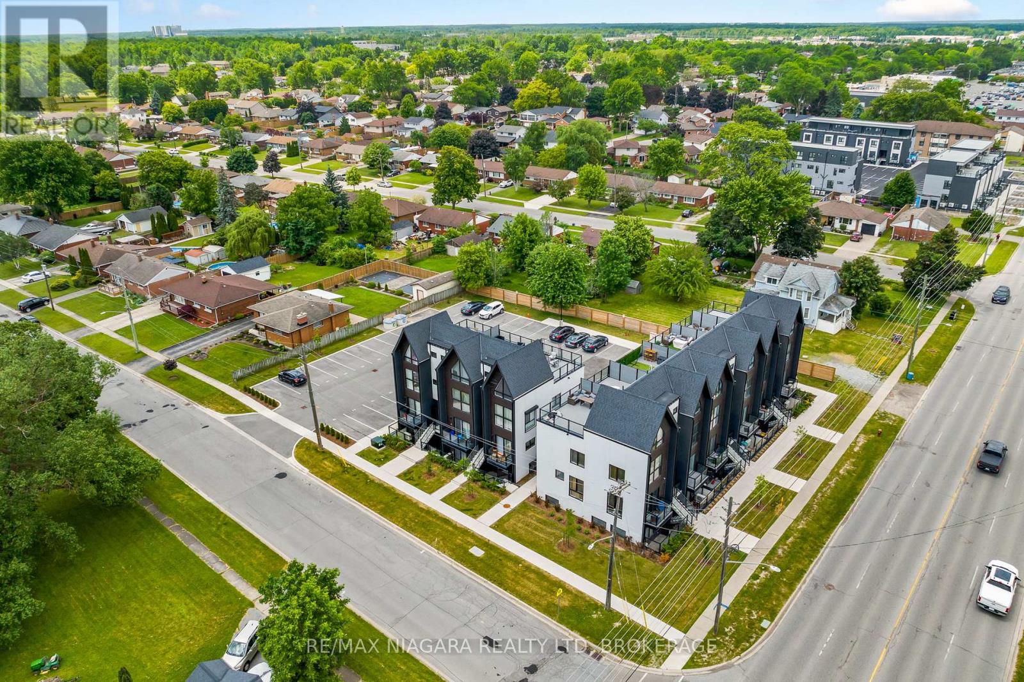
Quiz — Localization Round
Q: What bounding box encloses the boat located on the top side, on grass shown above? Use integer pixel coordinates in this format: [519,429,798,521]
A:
[83,222,113,236]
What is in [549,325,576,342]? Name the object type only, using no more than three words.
car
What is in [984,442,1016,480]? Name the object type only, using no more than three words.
truck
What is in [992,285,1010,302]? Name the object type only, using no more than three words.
car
